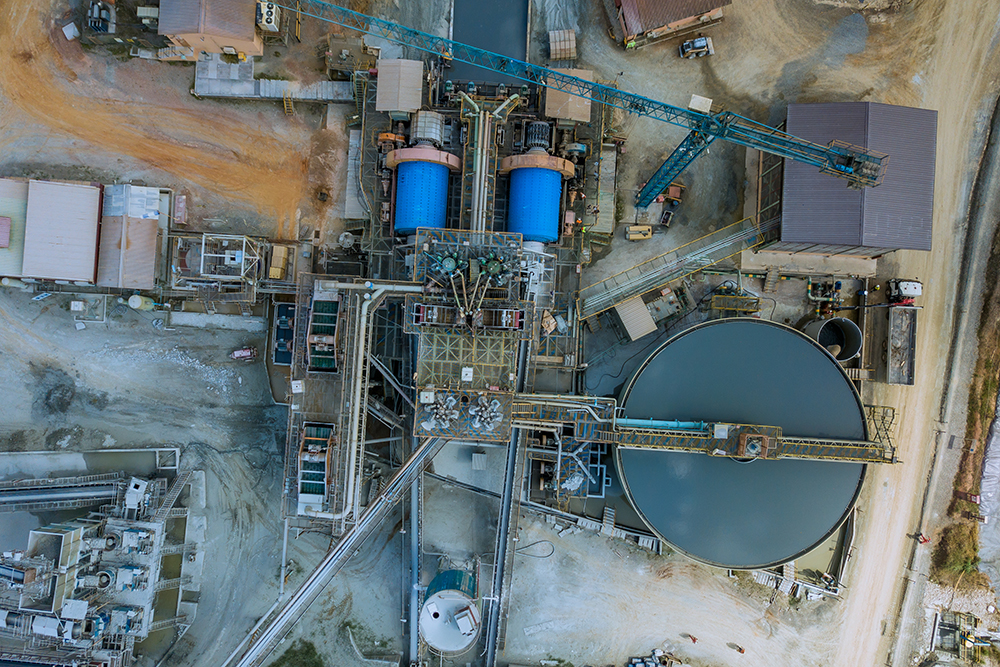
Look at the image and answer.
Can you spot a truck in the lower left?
No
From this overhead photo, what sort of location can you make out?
industrial area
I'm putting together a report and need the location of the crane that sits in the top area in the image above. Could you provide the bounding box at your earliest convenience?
[249,0,898,204]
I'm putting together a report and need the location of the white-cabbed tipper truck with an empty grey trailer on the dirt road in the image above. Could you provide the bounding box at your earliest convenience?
[886,279,937,391]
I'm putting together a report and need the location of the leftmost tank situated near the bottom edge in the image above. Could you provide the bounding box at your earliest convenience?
[417,560,495,667]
